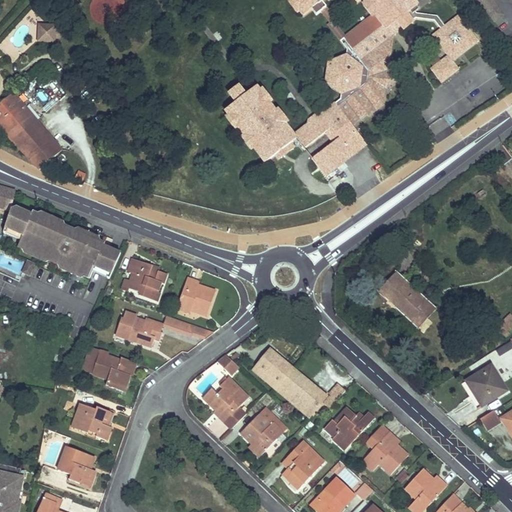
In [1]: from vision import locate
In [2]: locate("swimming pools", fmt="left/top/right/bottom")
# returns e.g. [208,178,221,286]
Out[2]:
[44,440,62,466]
[10,24,30,48]
[0,254,24,273]
[196,372,219,394]
[38,91,48,103]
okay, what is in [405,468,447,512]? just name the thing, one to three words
house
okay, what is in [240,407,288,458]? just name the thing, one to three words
house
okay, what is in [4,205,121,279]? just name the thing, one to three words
building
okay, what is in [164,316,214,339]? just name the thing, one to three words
building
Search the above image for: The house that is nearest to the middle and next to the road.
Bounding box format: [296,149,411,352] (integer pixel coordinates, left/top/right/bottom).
[178,276,216,318]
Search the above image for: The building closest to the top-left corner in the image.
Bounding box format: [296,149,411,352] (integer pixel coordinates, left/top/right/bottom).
[36,21,58,42]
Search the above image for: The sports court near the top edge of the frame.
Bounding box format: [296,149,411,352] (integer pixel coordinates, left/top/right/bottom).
[90,0,126,26]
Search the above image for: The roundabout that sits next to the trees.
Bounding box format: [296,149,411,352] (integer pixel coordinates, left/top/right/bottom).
[238,246,330,308]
